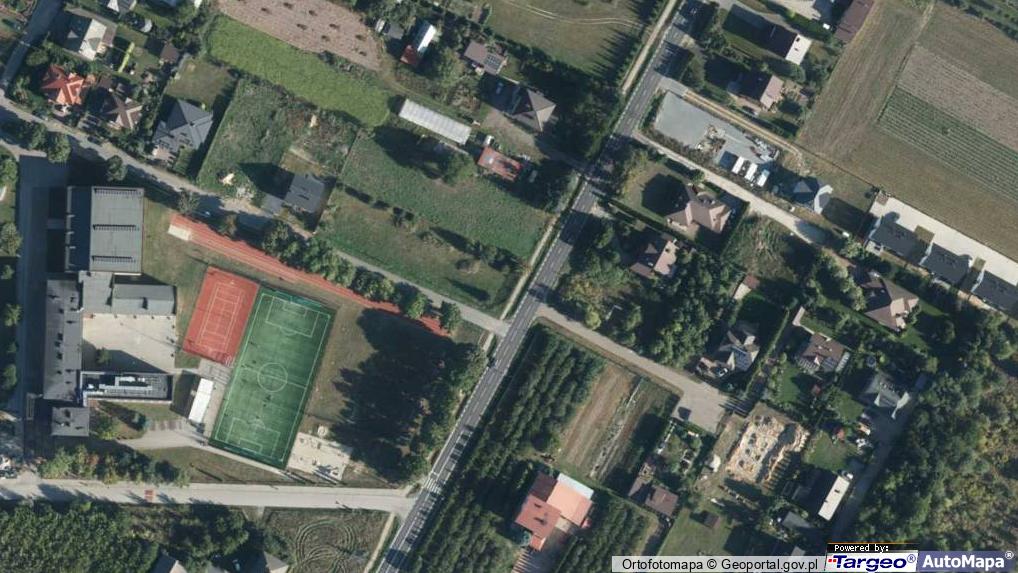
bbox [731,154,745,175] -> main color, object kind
white vehicle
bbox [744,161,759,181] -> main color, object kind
white vehicle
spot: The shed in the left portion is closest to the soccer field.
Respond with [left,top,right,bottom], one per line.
[188,378,214,423]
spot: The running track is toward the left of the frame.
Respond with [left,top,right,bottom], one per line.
[167,214,449,335]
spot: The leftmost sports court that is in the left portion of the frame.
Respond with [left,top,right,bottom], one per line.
[183,267,259,366]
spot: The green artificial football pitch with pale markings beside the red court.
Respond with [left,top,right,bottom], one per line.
[209,286,337,468]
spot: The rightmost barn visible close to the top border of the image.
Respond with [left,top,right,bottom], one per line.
[832,0,876,44]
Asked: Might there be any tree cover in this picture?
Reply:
Yes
